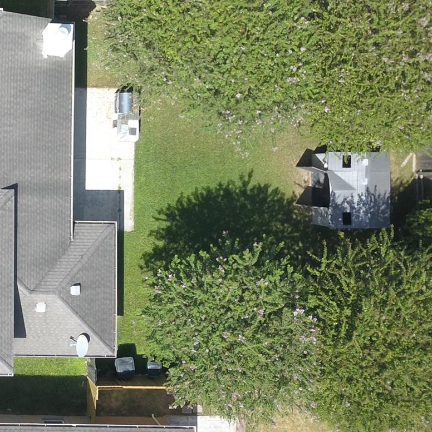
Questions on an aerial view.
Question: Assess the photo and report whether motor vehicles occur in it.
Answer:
No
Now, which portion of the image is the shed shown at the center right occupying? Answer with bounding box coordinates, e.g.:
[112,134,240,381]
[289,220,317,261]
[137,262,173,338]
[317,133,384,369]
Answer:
[296,150,390,229]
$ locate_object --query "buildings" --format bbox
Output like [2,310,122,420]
[296,150,390,229]
[0,405,199,432]
[0,6,119,377]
